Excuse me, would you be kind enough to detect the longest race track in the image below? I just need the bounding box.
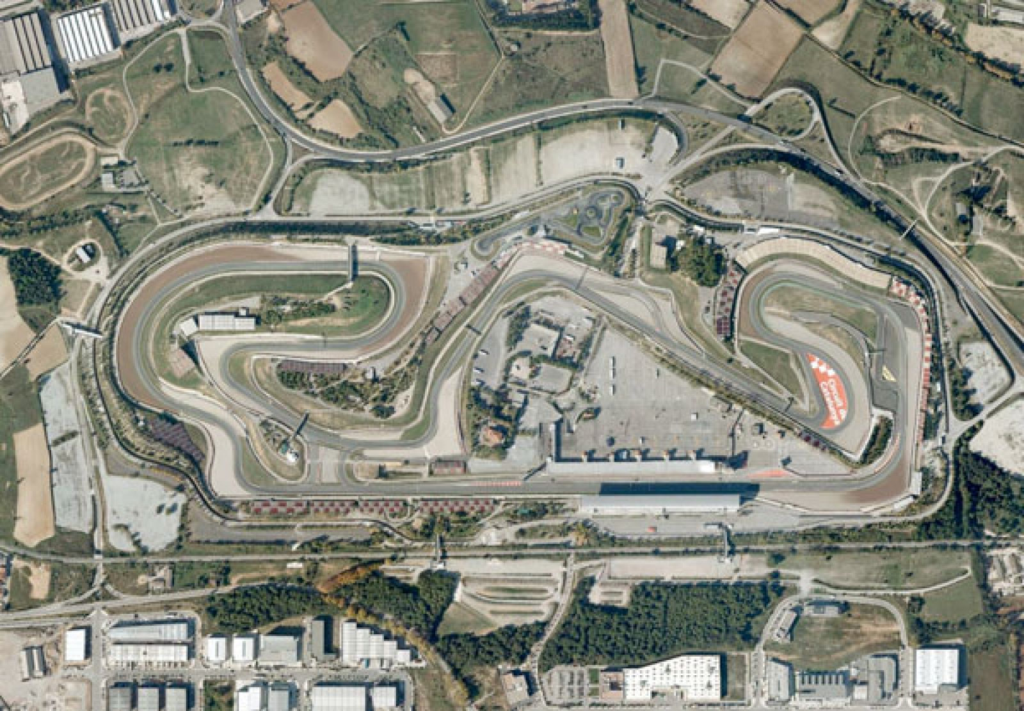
[131,260,906,494]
